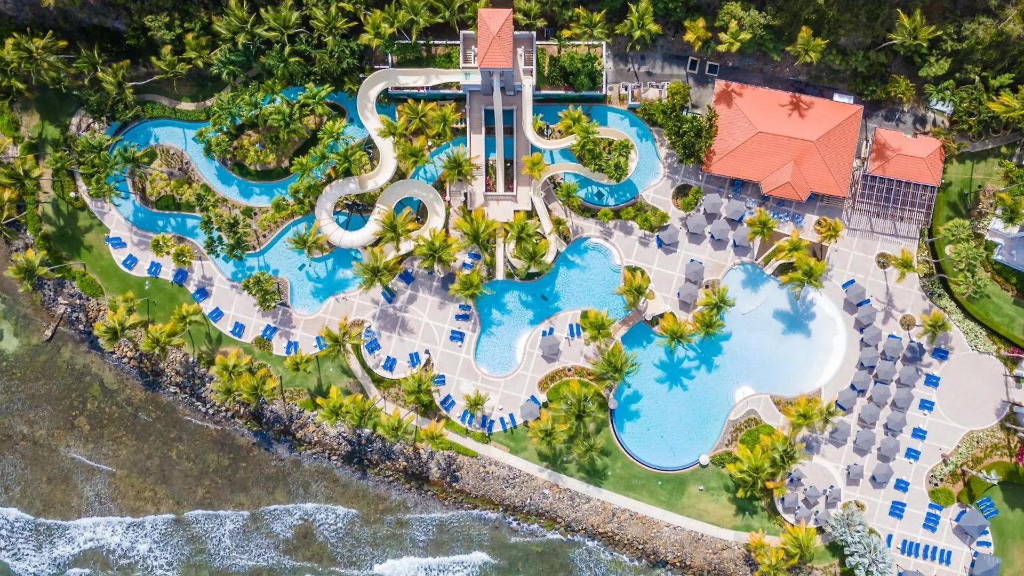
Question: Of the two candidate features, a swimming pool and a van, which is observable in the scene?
swimming pool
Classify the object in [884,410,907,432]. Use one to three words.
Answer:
umbrella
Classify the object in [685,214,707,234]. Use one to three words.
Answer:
umbrella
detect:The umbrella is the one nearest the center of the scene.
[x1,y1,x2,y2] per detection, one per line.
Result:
[539,334,562,357]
